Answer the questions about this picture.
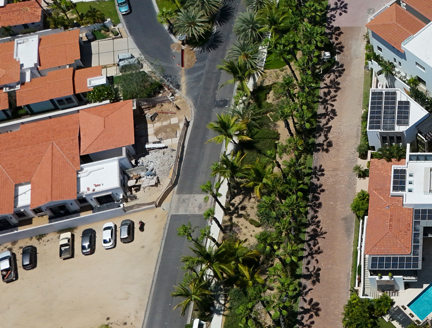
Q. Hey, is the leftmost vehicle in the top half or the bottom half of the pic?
bottom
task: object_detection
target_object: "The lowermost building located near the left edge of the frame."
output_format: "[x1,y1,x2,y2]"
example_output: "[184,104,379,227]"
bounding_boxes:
[0,99,139,228]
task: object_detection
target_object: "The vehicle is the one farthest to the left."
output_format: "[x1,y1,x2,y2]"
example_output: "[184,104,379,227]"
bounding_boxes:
[0,250,20,287]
